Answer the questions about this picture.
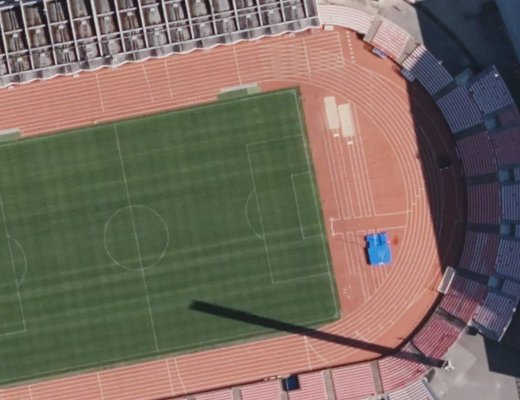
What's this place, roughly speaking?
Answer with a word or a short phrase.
sports ground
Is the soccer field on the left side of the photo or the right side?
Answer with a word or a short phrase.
left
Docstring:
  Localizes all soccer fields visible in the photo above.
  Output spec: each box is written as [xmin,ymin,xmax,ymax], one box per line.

[0,85,345,390]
